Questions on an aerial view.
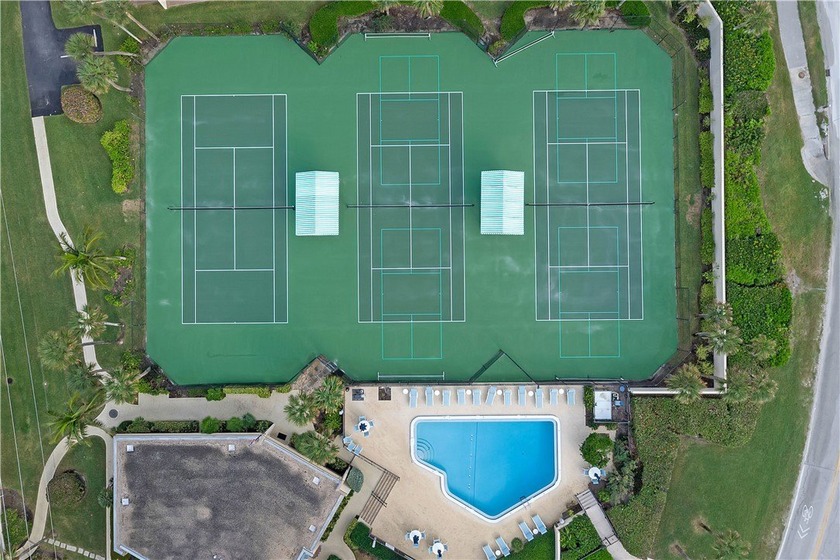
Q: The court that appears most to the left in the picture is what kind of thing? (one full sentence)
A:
Specifically, the court that appears most to the left is a tennis court.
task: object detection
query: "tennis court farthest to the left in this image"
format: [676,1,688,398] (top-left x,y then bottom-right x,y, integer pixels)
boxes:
[181,94,288,324]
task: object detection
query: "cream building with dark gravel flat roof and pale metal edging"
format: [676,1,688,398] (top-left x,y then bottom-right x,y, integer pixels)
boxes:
[113,433,345,560]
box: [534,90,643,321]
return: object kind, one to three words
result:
tennis court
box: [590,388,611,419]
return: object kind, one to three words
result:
shed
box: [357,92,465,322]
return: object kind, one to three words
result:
tennis court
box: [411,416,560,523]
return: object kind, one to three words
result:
swimming pool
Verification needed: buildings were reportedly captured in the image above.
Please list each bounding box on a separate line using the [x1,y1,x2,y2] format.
[113,433,345,560]
[590,388,611,419]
